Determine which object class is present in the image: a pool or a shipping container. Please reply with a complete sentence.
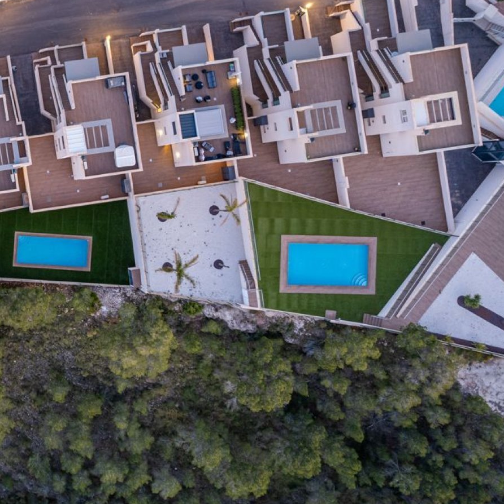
The image shows a pool.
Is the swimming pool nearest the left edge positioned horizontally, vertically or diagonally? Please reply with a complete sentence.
The swimming pool nearest the left edge runs horizontally in the image.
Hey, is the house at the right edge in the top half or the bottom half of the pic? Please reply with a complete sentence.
The top half of the photo is where the house at the right edge is.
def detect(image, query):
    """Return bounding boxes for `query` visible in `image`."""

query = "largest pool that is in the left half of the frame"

[13,232,93,272]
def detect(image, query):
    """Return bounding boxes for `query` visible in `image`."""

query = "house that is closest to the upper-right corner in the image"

[362,29,482,156]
